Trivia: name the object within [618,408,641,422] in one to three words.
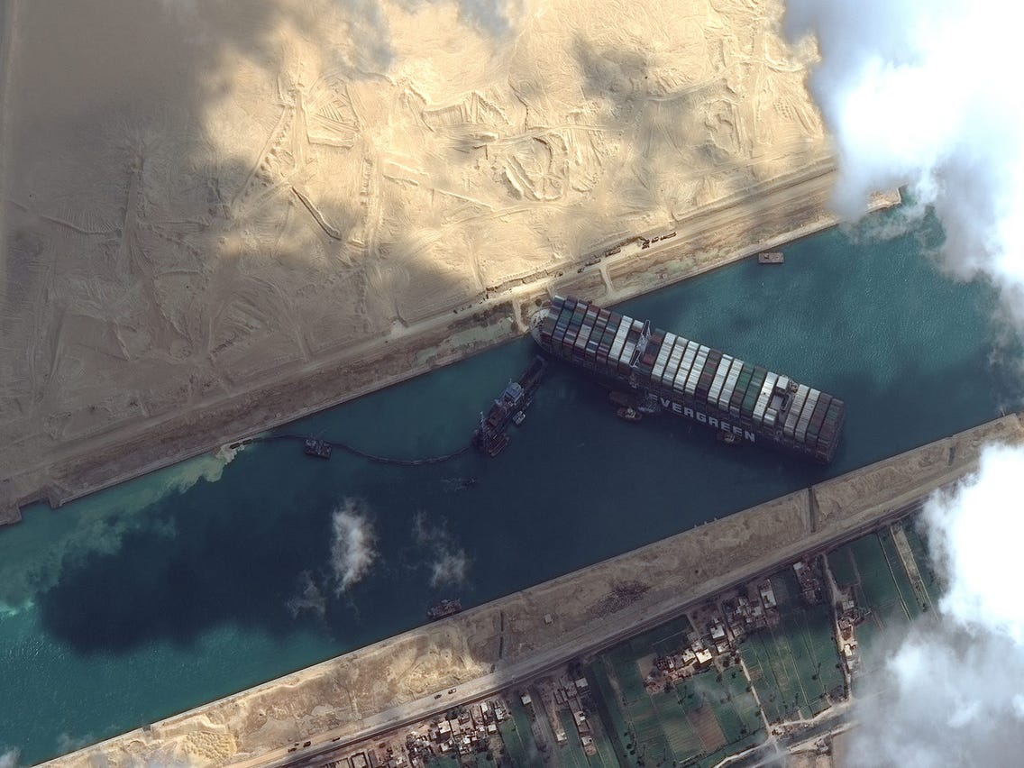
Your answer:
boat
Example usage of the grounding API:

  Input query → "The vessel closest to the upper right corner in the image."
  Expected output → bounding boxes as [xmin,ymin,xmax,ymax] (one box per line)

[758,253,783,265]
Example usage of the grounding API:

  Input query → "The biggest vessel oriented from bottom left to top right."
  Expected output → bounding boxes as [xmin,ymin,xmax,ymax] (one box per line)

[484,361,543,448]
